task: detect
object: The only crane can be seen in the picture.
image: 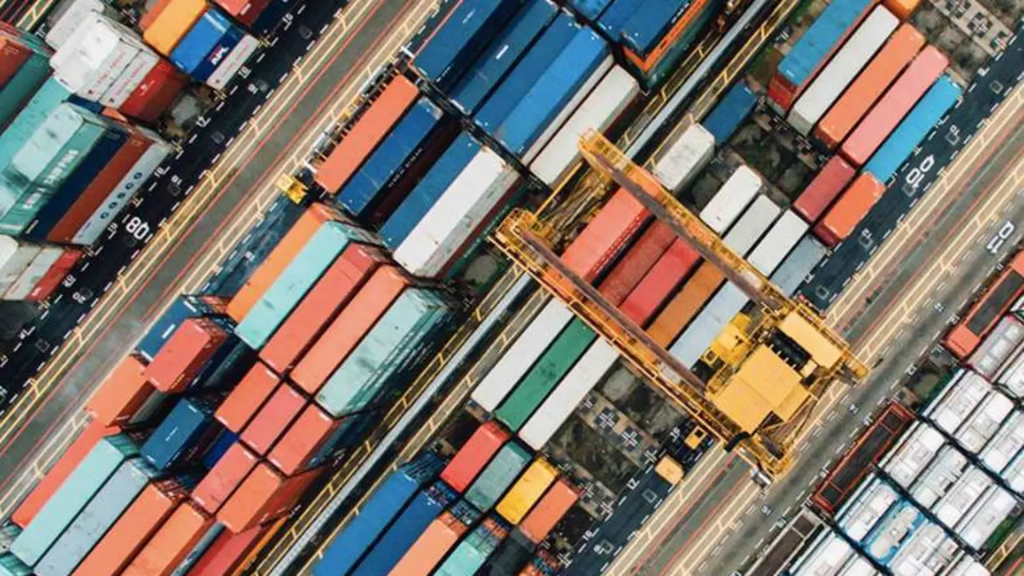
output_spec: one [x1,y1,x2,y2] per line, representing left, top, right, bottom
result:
[487,121,872,502]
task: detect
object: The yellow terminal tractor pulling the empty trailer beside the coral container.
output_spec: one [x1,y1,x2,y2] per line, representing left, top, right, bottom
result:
[278,153,327,199]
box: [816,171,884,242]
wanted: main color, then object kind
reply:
orange shipping container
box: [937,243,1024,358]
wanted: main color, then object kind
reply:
red shipping container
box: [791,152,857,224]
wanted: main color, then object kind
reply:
red shipping container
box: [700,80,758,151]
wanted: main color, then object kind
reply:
blue shipping container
